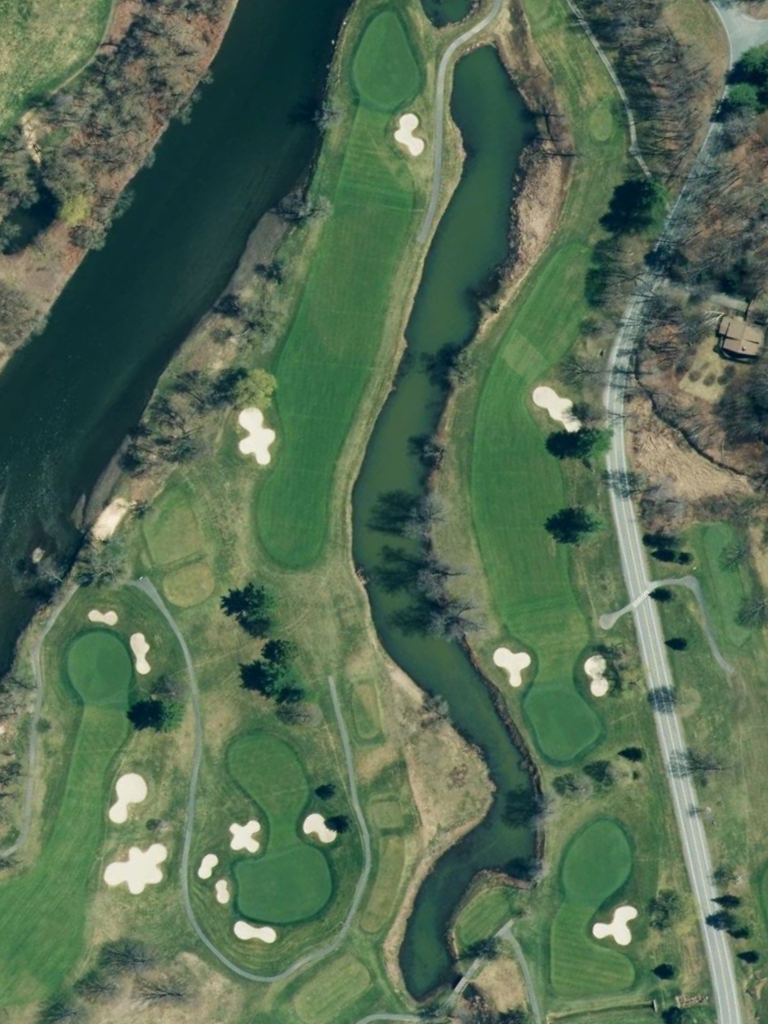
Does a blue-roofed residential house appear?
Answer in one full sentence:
No, this view has no blue-roofed residential house in it.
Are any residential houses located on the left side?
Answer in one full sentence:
No, I can find no residential house on the left side.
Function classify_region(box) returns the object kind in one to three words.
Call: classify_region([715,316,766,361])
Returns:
house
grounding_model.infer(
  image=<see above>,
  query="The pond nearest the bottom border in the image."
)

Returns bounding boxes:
[349,44,539,999]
